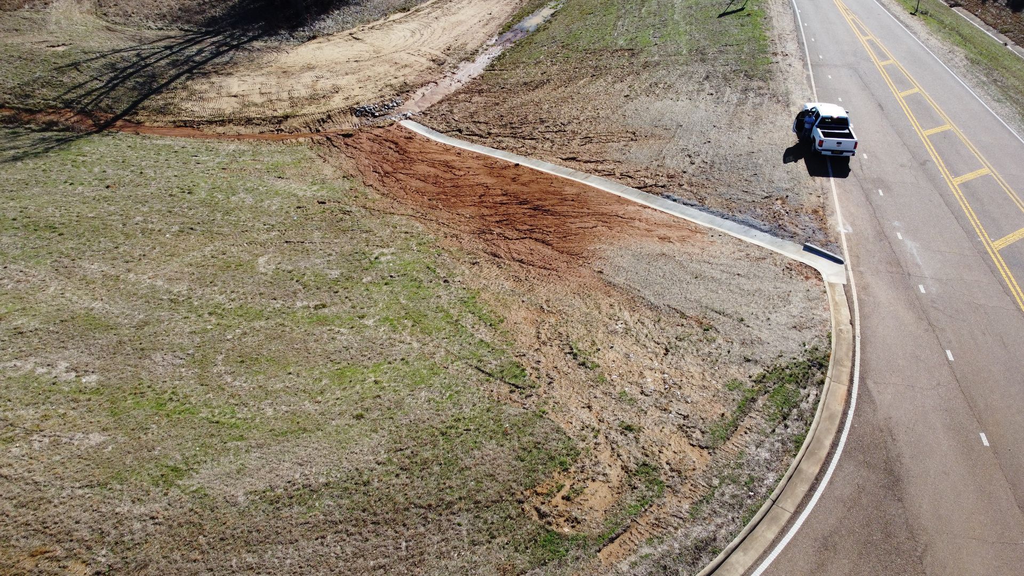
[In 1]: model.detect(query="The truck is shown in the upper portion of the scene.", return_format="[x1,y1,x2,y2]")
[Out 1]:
[788,101,857,157]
